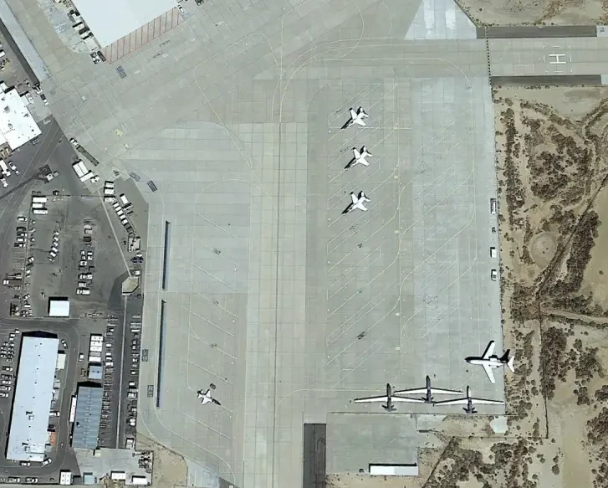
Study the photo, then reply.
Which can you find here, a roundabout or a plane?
plane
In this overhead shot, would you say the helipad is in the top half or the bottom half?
top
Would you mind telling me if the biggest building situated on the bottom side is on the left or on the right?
left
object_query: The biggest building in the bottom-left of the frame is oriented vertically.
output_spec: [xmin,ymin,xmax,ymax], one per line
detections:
[5,336,59,463]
